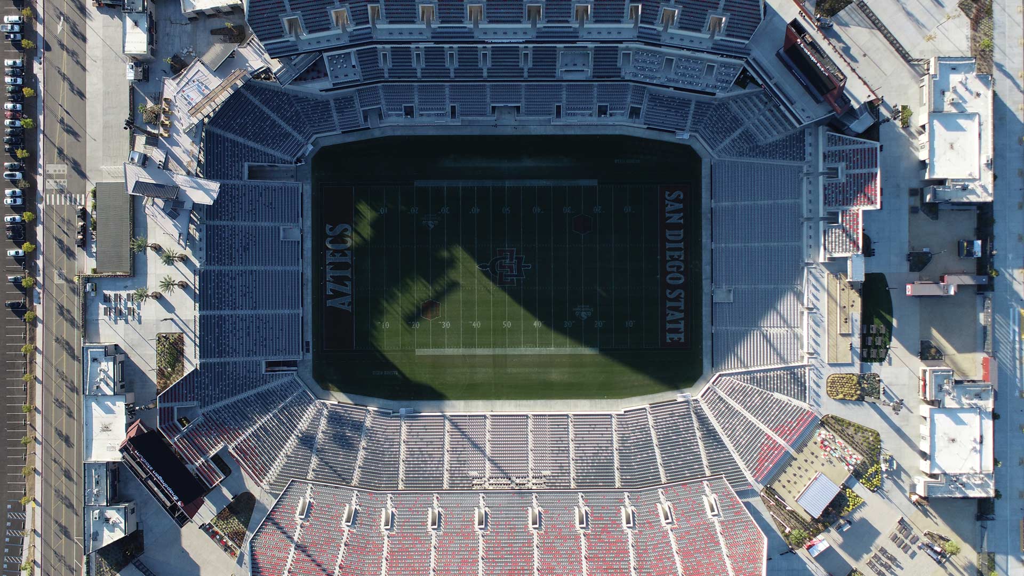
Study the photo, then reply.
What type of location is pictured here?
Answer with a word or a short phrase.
sports ground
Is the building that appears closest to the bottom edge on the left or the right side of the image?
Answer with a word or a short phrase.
left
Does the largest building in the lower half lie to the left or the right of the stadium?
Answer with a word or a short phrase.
right of it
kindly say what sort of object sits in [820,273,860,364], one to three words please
building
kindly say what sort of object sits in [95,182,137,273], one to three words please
building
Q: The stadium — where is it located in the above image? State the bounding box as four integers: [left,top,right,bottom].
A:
[156,0,822,576]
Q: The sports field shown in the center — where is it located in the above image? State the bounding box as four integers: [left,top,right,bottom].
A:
[312,134,702,400]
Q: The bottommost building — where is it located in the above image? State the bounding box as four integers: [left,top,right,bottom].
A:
[84,501,137,555]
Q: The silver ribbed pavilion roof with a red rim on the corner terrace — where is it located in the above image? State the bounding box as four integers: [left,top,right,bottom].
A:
[790,469,840,517]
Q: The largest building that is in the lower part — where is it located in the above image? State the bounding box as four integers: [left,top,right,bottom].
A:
[912,367,994,497]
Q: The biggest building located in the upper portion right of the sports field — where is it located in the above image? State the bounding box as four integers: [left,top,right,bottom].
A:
[912,57,993,204]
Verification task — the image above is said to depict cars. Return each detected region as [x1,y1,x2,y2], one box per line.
[6,249,24,257]
[5,232,23,240]
[2,118,21,127]
[4,94,23,101]
[4,301,22,308]
[5,275,23,283]
[3,172,20,179]
[0,22,21,31]
[4,161,20,169]
[2,127,22,135]
[2,75,22,84]
[1,135,21,144]
[4,58,22,66]
[4,224,23,232]
[3,110,22,118]
[2,197,22,205]
[1,31,23,40]
[4,67,22,75]
[3,215,22,223]
[5,84,22,92]
[3,189,22,196]
[4,102,22,110]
